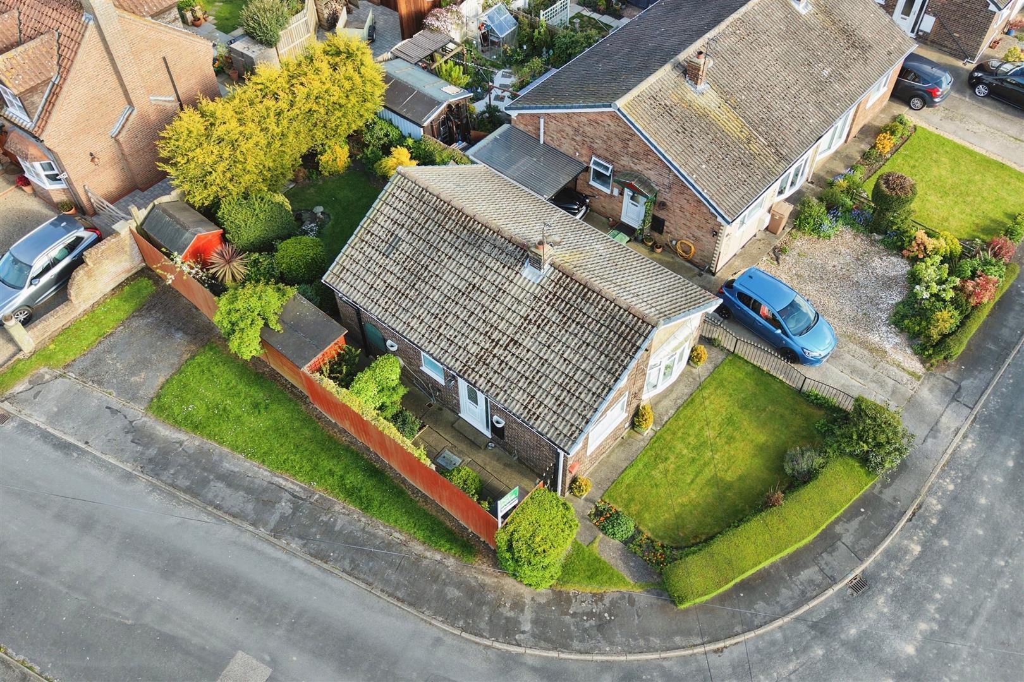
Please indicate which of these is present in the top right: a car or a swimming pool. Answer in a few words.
car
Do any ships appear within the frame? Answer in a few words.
No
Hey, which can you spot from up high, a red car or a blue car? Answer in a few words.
blue car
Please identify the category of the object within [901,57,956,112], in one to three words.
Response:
car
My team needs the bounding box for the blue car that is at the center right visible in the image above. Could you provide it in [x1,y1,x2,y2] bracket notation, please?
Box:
[716,273,835,366]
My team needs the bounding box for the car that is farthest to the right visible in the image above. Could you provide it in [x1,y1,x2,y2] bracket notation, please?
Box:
[967,59,1024,108]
